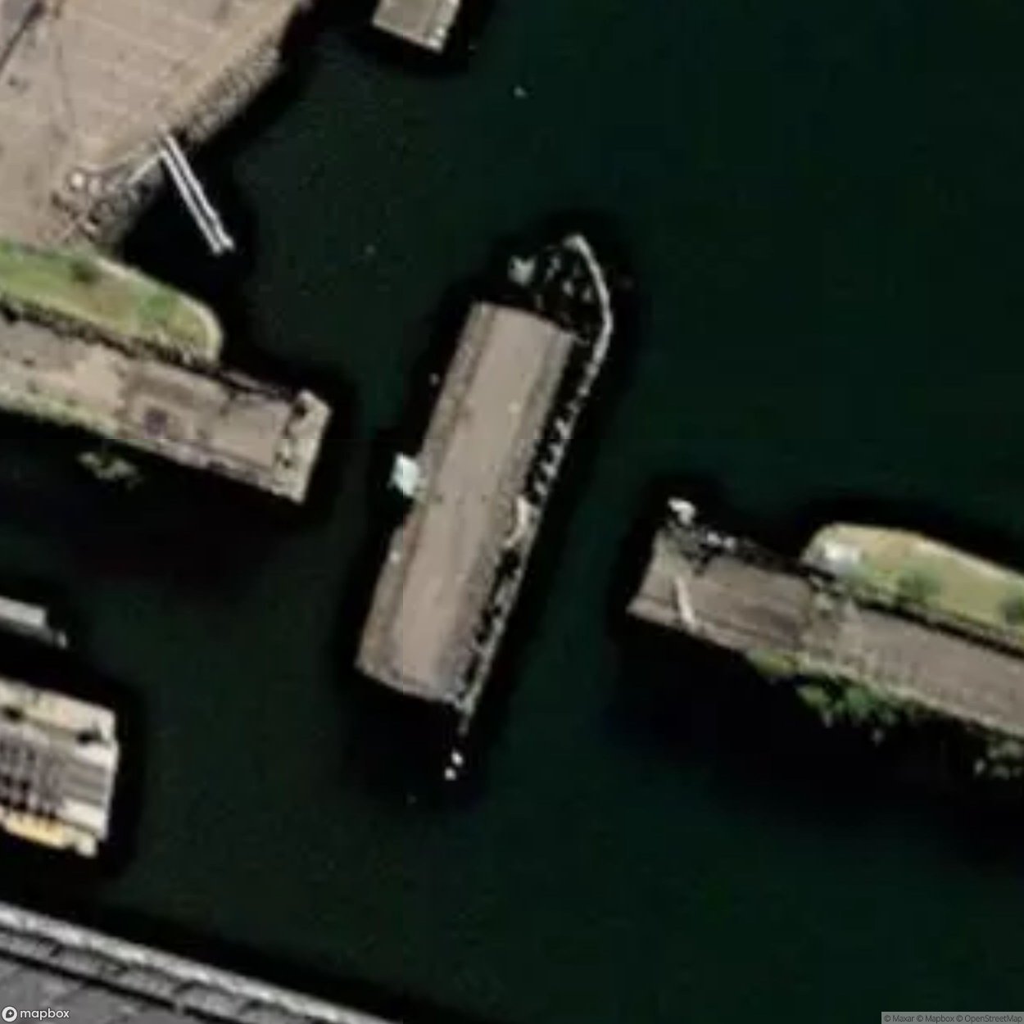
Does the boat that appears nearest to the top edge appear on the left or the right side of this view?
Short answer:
left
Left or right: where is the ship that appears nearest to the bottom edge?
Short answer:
left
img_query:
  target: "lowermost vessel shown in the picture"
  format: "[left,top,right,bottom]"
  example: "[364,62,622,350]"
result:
[0,679,122,852]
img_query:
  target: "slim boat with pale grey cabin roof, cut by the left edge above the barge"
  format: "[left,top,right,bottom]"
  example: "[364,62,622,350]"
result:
[0,594,61,649]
